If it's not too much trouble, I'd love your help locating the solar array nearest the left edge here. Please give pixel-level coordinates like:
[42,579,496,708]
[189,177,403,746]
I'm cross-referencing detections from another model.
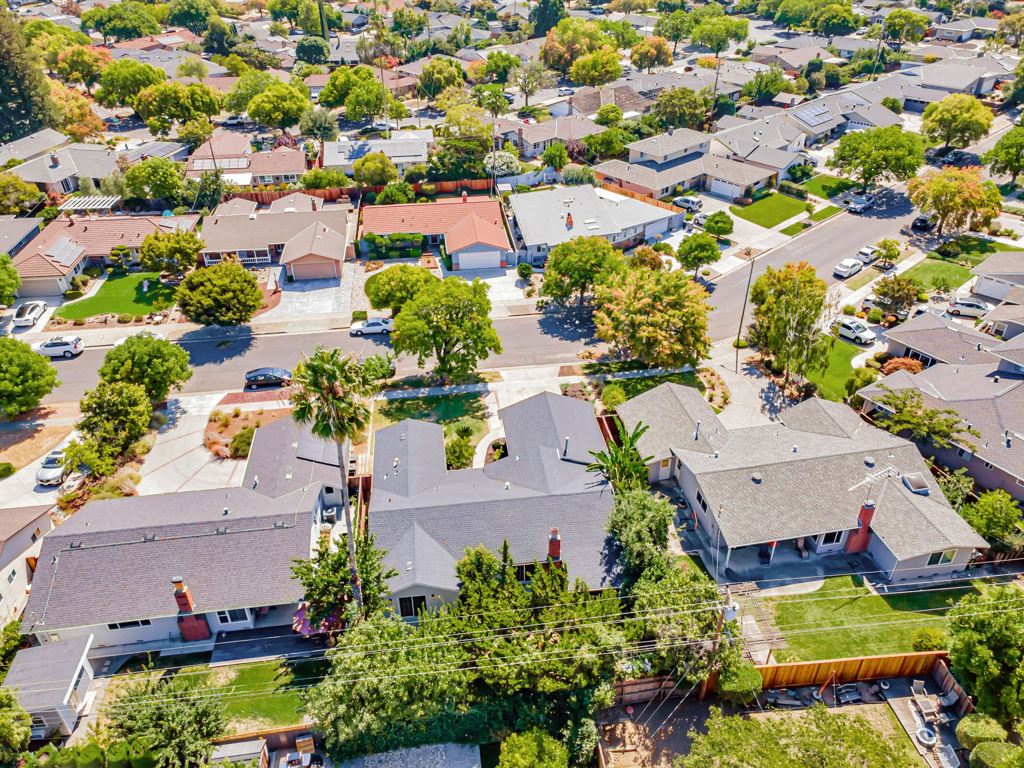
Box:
[47,243,81,267]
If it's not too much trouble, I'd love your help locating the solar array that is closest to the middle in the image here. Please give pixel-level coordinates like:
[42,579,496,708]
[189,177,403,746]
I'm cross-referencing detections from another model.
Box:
[299,425,338,465]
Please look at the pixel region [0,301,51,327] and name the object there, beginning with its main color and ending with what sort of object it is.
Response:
white car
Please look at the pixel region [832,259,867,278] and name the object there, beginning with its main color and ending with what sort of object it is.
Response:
white car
